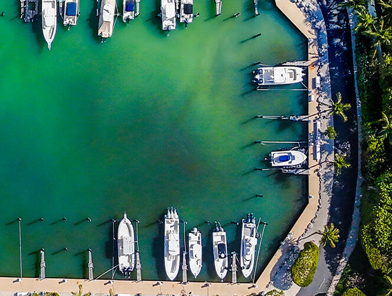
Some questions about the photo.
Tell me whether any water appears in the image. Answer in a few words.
Yes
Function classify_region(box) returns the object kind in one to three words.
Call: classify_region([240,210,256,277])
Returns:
boat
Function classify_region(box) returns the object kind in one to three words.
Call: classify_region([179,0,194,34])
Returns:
boat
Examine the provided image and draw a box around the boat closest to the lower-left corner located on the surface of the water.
[117,211,134,279]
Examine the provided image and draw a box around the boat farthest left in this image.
[41,0,57,49]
